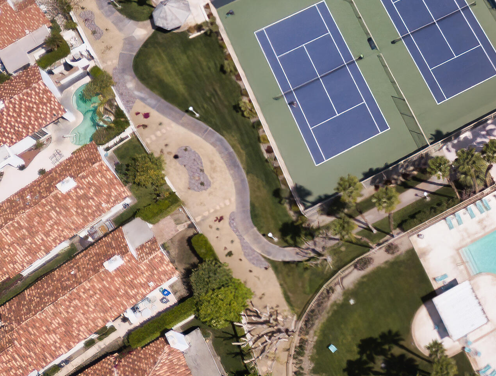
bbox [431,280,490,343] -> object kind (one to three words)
building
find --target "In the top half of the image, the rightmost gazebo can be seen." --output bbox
[150,0,198,39]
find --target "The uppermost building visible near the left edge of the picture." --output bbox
[0,0,61,76]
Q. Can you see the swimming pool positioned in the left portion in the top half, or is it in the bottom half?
top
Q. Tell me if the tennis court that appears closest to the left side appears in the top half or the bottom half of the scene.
top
